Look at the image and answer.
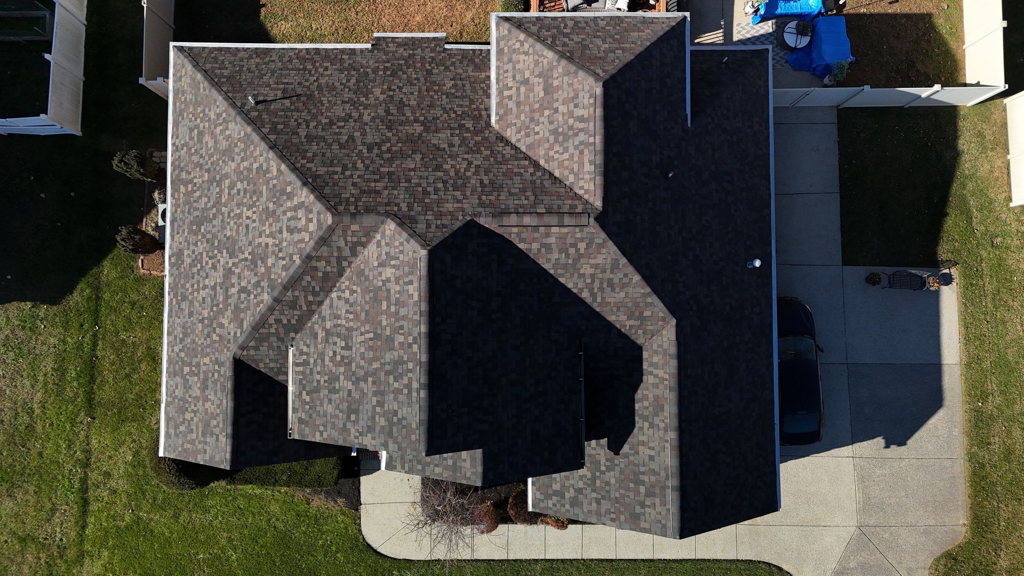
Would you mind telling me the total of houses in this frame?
1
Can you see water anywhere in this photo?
No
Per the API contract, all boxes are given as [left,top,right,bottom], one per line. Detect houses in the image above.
[158,10,782,539]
